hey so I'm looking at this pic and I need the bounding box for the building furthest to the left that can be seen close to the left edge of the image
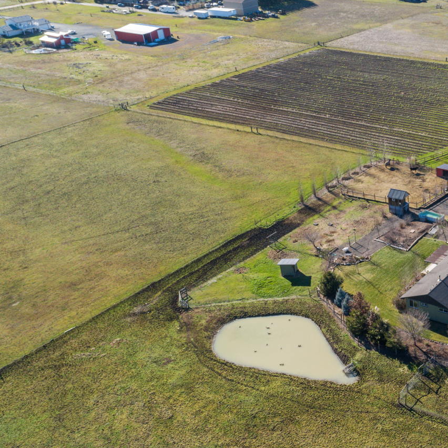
[5,17,41,42]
